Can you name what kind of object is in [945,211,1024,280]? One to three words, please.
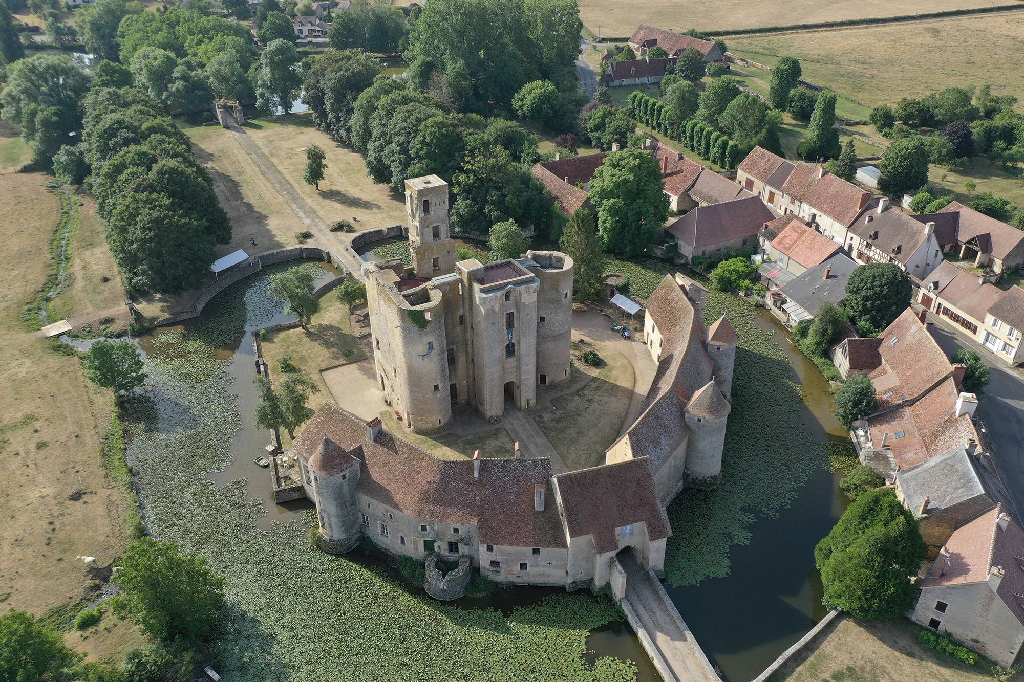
barn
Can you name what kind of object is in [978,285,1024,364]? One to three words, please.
house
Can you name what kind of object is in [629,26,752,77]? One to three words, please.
barn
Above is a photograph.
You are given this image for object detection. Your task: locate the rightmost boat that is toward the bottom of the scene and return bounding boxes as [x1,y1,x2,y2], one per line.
[252,453,268,468]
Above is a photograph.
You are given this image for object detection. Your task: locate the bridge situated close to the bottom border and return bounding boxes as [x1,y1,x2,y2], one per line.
[611,543,727,682]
